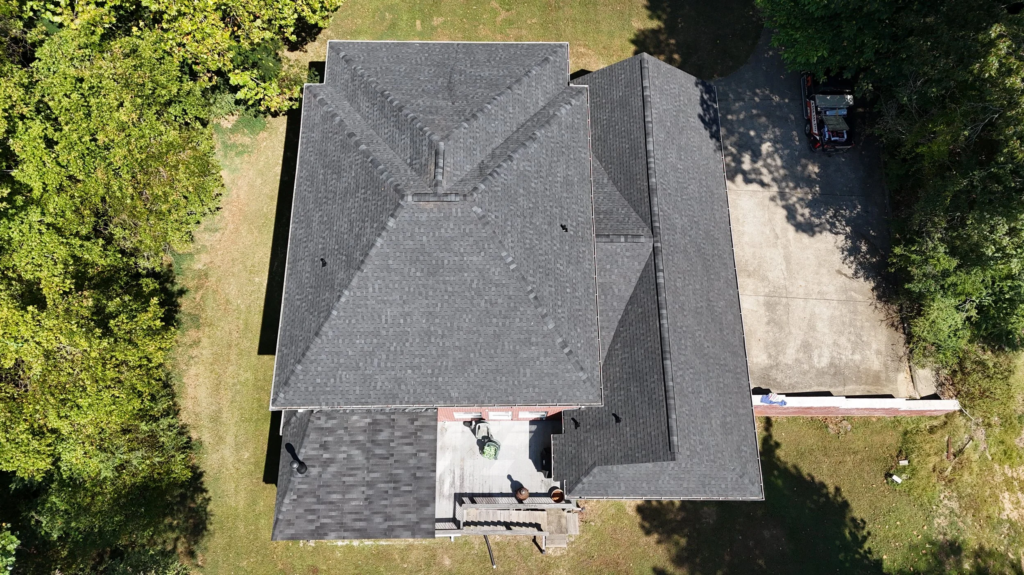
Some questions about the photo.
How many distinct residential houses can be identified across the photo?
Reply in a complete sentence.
I count 1 residential house.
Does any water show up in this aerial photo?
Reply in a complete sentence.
No, no water is visible.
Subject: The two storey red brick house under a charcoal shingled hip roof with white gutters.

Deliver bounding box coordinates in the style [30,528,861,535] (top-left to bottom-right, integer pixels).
[269,40,764,542]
